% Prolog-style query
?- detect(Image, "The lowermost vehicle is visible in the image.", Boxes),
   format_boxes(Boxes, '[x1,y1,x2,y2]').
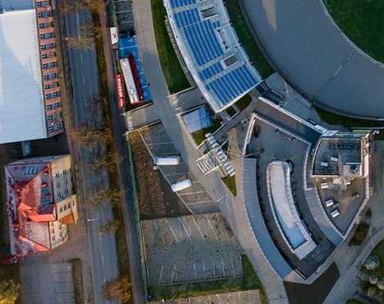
[170,179,194,193]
